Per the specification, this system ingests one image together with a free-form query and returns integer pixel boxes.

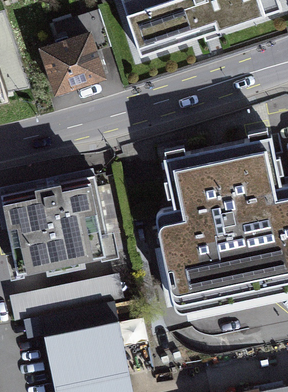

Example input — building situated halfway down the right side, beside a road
[156,130,288,322]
